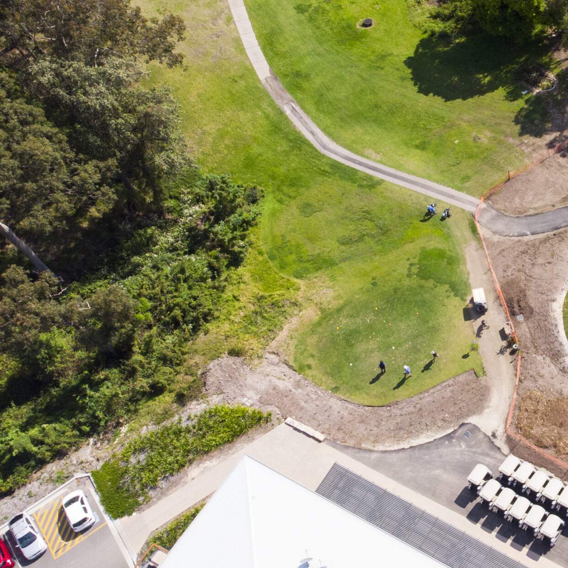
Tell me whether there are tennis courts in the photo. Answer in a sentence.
No, no tennis court is visible in the scene.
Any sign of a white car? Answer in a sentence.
Yes, there is a white car in the image.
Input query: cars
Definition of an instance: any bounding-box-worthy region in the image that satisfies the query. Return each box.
[6,512,50,561]
[0,546,16,568]
[63,490,98,537]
